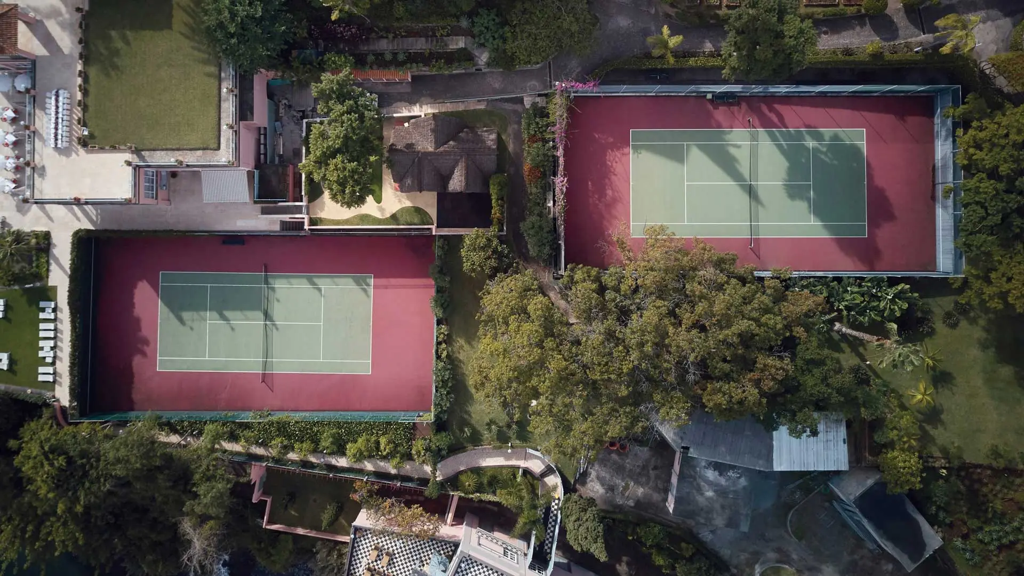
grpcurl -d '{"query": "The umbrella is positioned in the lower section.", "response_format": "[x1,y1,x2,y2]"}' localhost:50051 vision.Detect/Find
[429,552,449,573]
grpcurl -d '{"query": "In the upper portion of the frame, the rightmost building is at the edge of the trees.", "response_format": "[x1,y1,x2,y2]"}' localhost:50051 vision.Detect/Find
[392,117,500,202]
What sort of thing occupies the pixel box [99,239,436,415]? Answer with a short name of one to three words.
tennis court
